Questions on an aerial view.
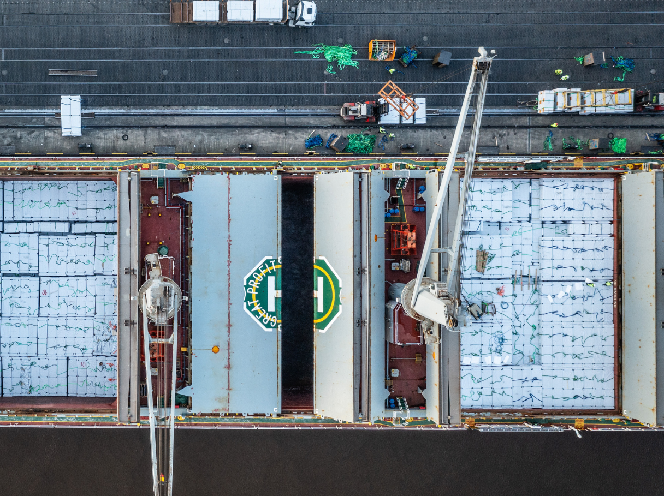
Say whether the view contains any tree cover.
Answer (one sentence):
No, there's no tree cover in this view.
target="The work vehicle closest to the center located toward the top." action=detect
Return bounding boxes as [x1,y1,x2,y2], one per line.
[337,102,381,123]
